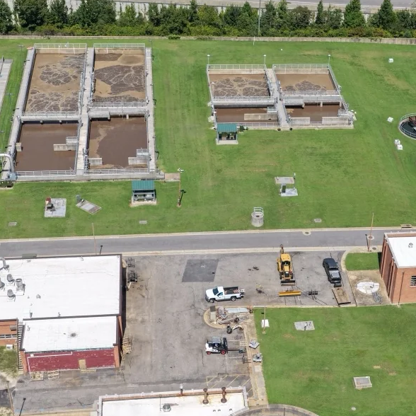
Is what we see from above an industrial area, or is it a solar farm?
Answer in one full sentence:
The picture captures an industrial area.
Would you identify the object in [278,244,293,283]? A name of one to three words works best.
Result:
work vehicle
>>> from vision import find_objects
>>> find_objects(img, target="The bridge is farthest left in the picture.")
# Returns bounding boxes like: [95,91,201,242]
[22,102,81,121]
